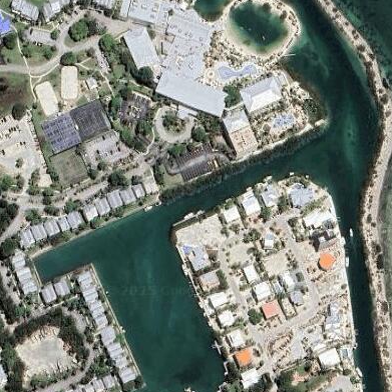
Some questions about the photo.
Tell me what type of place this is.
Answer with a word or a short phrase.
residential area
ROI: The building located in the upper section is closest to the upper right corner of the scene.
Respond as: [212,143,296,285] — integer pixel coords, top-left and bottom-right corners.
[239,75,283,109]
